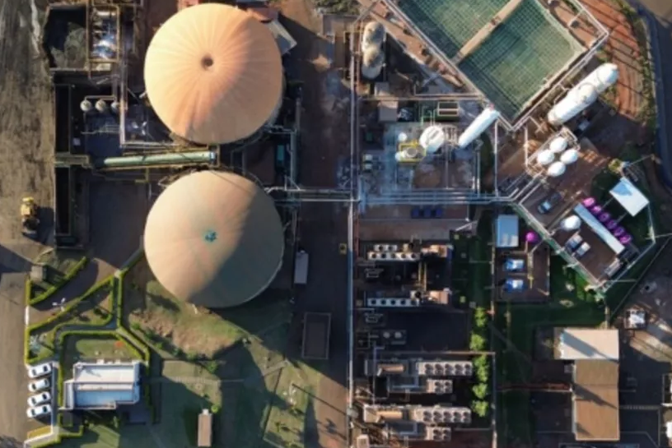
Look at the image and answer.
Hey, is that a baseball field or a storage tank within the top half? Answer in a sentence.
What appears within the top half is a storage tank.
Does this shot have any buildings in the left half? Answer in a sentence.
Yes, a building can be seen in the left half.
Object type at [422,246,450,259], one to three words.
house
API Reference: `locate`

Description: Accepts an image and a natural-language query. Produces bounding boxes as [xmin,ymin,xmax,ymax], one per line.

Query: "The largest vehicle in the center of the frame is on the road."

[294,249,308,284]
